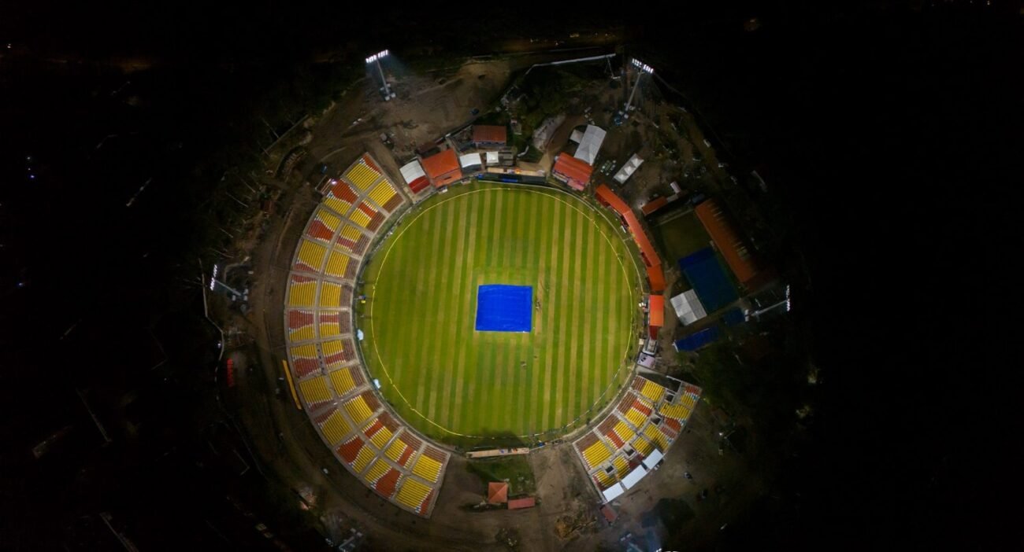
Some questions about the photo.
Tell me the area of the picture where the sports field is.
center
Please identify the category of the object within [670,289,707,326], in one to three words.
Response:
barn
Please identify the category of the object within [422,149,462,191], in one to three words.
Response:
building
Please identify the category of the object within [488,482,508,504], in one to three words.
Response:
building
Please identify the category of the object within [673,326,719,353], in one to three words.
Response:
shed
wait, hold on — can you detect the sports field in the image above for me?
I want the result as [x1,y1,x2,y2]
[357,183,644,453]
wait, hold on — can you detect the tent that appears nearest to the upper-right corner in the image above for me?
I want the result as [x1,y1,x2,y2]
[613,153,644,184]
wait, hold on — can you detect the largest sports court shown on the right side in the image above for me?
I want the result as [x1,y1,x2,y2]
[685,254,739,312]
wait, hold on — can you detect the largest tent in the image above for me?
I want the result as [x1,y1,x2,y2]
[574,125,606,166]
